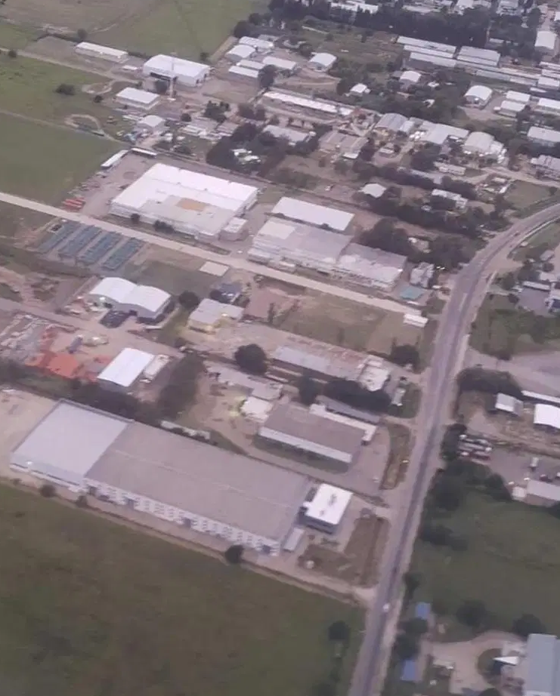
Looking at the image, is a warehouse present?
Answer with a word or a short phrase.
Yes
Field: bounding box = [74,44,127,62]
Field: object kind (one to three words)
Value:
shed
